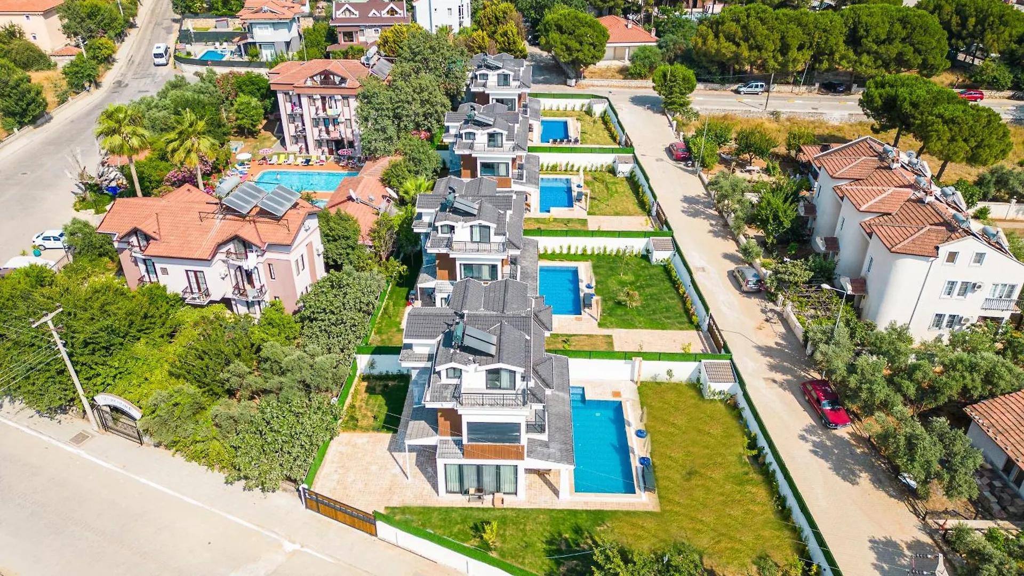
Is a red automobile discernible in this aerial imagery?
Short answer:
Yes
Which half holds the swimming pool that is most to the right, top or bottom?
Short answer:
bottom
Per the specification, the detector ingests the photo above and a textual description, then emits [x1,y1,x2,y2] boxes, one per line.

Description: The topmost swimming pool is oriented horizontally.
[195,48,237,61]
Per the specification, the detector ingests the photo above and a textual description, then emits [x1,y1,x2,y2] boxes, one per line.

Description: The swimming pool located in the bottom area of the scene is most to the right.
[569,383,643,498]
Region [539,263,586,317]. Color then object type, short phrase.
blue swimming pool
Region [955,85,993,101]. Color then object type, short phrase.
red car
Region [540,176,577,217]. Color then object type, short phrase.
blue swimming pool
